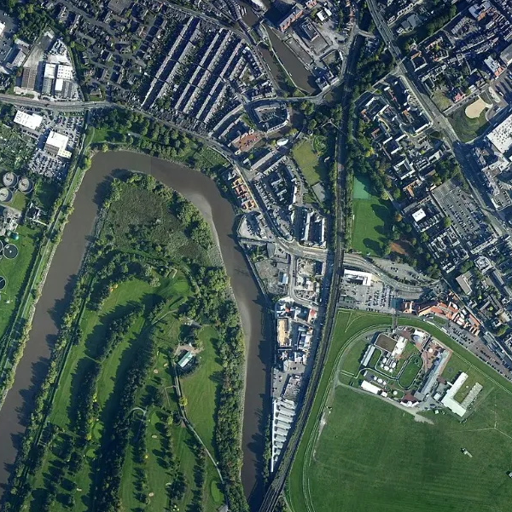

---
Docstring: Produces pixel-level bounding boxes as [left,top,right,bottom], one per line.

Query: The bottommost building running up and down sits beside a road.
[270,400,295,471]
